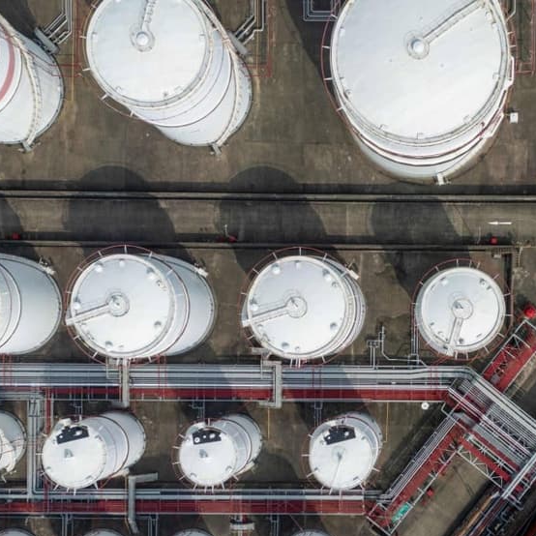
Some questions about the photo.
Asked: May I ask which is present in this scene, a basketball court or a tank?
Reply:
tank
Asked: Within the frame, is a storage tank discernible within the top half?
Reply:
Yes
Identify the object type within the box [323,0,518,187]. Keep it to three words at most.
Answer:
storage tank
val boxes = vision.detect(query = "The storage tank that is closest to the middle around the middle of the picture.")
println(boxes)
[240,246,365,368]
